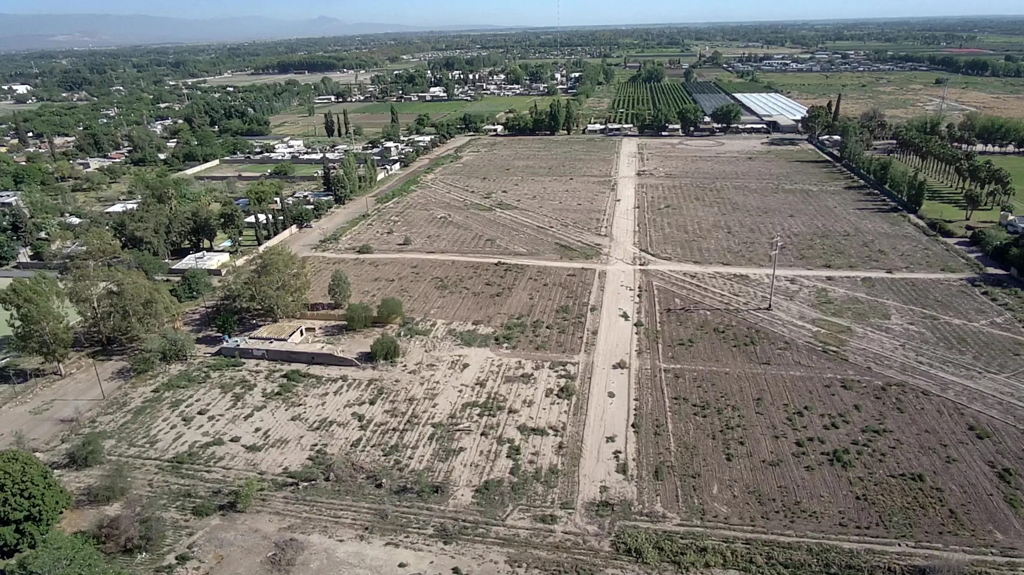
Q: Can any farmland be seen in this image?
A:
Yes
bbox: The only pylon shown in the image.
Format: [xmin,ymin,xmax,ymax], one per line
[937,77,952,114]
